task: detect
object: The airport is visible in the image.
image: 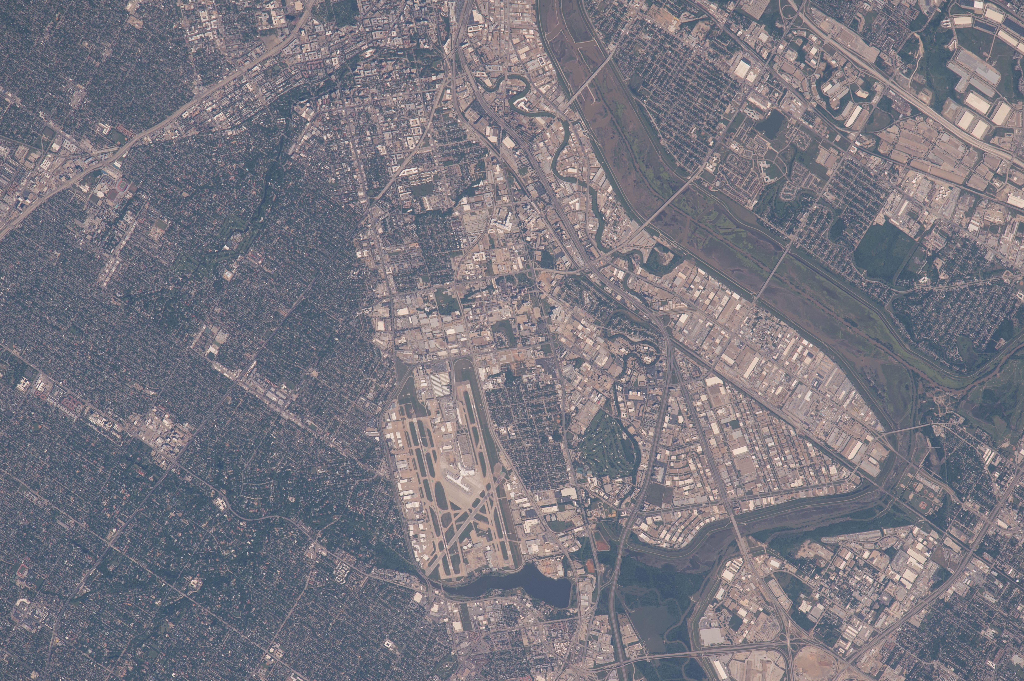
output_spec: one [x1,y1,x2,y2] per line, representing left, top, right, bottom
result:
[384,359,522,581]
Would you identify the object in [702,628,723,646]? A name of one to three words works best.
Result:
building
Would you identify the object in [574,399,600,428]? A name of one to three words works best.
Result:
building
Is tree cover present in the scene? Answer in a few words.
Yes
